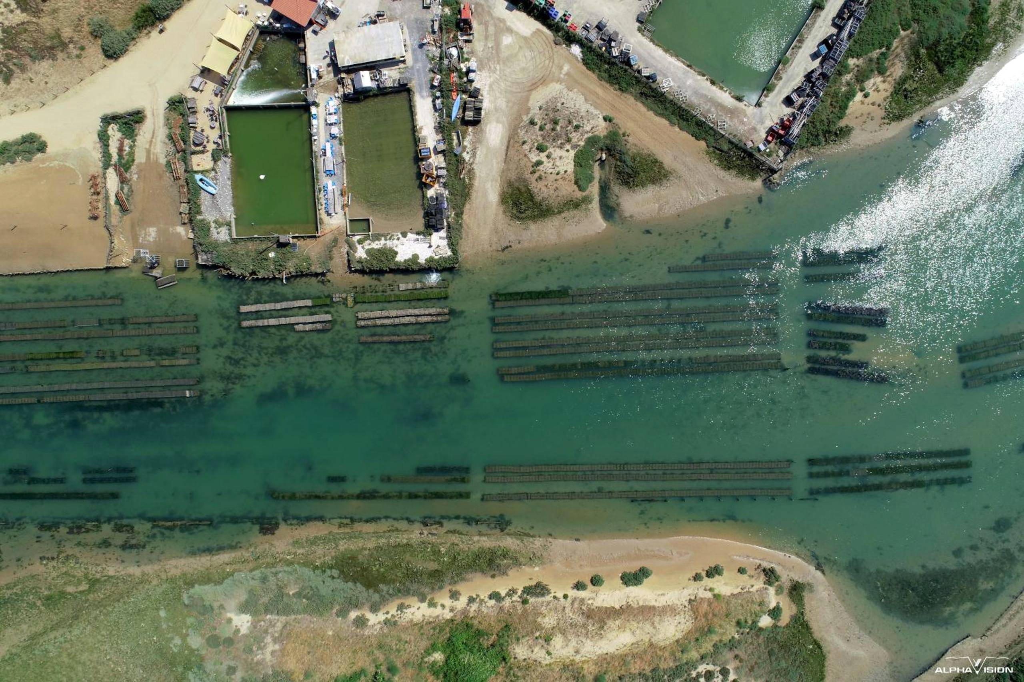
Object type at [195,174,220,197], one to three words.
boat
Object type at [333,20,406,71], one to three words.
shed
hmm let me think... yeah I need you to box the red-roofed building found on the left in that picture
[270,0,327,34]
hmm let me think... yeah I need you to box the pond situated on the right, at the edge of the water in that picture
[652,0,818,107]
